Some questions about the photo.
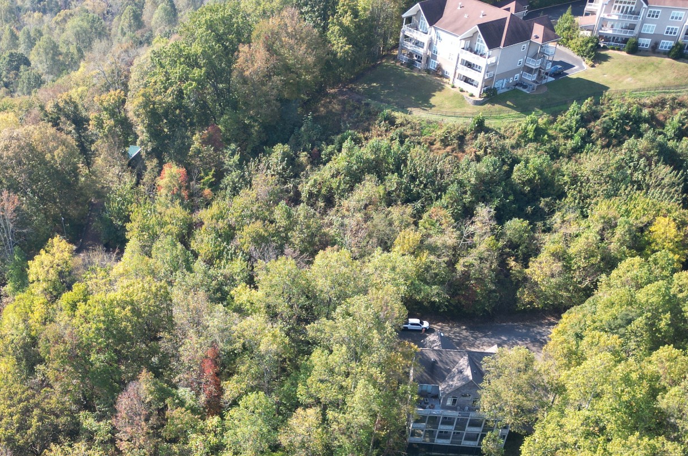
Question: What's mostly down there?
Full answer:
For the most part, this view shows trees.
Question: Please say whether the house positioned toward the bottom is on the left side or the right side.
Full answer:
The house positioned toward the bottom appears in the right half of the scene.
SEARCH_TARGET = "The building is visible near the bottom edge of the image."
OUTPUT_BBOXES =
[408,326,509,456]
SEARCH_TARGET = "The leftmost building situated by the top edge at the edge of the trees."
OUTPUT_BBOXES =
[399,0,572,96]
